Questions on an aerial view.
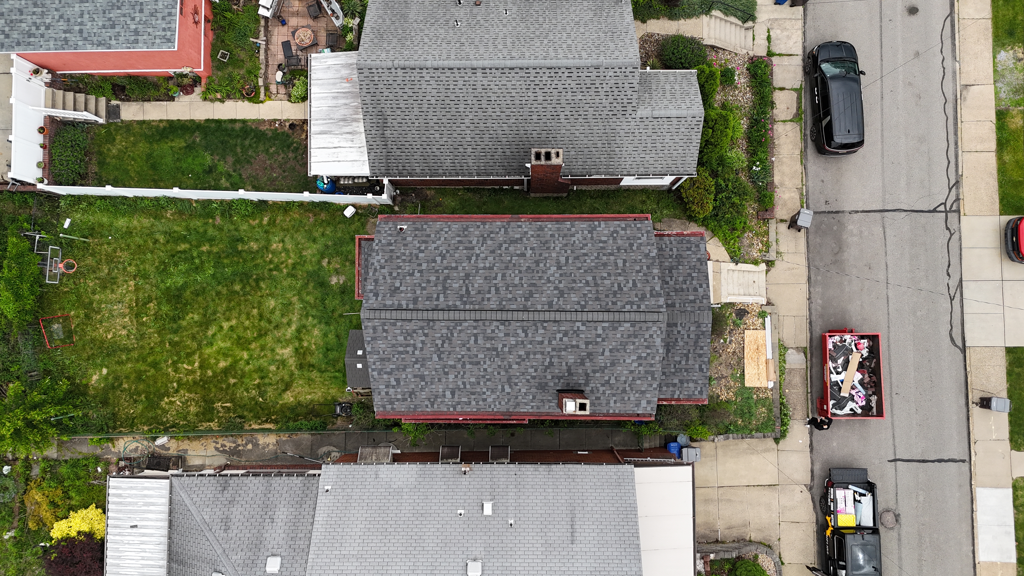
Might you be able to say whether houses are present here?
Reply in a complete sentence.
Yes, the picture does show a house.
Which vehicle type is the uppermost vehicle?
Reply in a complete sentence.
I'd say the uppermost vehicle is a car.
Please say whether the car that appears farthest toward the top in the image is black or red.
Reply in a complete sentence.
The color of the car that appears farthest toward the top is black.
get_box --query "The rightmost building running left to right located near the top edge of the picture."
[306,0,704,199]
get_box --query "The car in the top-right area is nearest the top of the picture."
[806,41,867,157]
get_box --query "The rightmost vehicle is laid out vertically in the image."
[1003,217,1024,263]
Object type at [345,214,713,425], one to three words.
house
